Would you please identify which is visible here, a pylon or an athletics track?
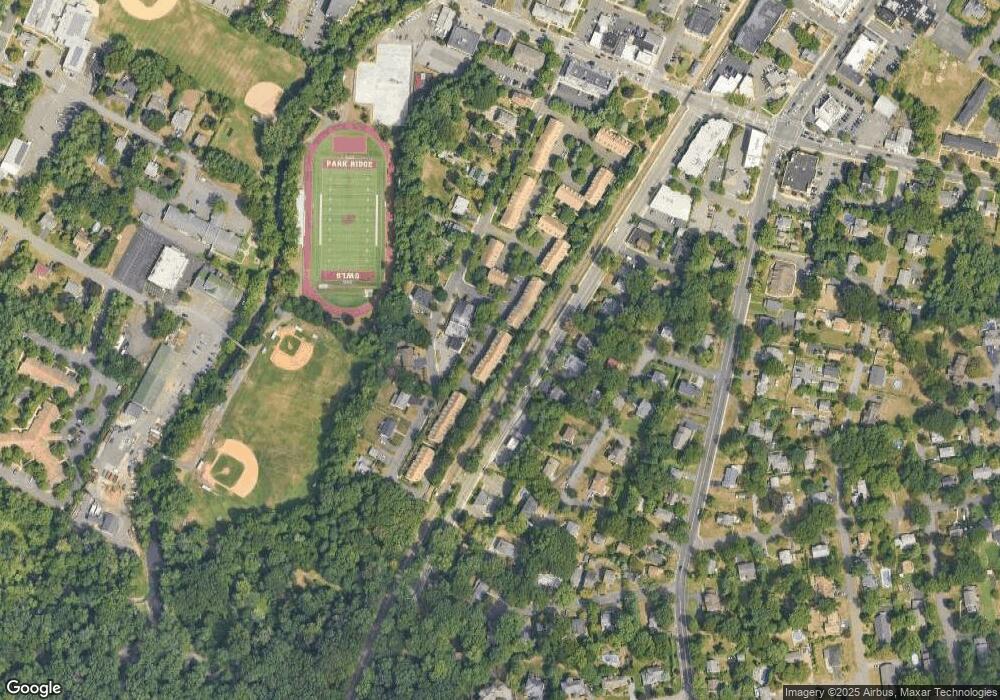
athletics track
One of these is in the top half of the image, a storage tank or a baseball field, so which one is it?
baseball field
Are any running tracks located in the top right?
No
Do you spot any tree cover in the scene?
Yes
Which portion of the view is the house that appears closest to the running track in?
center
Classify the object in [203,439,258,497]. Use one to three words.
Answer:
baseball field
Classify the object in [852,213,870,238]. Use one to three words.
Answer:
house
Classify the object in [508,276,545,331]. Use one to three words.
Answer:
building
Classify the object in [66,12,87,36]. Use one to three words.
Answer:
solar array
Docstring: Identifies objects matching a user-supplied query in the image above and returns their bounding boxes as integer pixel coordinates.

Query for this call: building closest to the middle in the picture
[474,331,513,384]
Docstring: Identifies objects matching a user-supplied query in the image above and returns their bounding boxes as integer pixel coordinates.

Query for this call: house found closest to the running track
[410,282,439,309]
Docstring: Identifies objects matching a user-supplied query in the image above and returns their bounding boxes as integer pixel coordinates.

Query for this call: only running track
[304,121,396,317]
